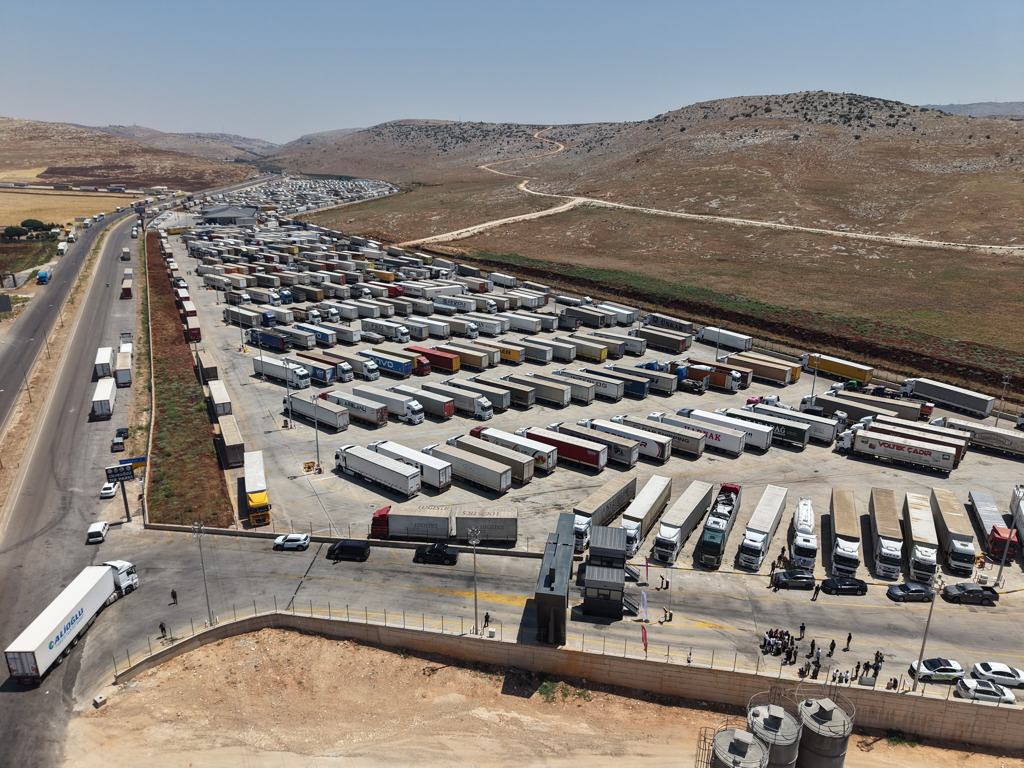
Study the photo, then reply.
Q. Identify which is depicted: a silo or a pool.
silo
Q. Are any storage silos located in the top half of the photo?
No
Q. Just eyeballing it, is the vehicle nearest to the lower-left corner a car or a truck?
truck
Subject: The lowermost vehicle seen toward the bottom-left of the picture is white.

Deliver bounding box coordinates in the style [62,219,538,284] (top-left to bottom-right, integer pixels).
[5,559,145,683]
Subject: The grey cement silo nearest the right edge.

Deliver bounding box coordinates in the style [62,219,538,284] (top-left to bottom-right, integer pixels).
[794,668,861,768]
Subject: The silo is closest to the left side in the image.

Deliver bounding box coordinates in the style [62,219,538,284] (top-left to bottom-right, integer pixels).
[696,717,770,768]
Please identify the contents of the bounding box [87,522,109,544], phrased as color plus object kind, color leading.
white car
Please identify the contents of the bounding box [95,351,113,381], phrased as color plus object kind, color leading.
white vehicle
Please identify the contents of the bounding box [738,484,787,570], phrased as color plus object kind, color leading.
white truck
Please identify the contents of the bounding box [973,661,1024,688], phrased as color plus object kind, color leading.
white car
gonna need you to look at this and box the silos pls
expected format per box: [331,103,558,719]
[696,717,770,768]
[744,676,810,768]
[794,668,861,768]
